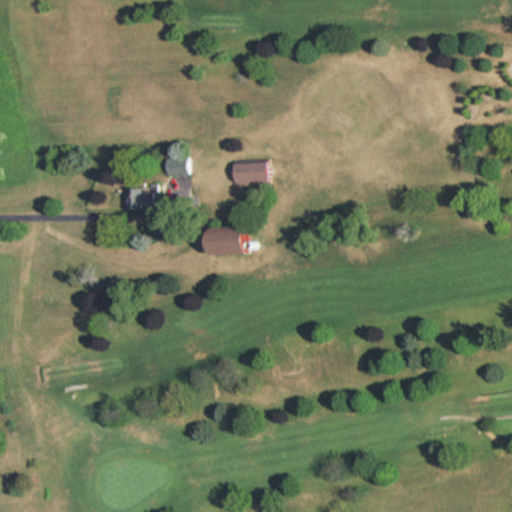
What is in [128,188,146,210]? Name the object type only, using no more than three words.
house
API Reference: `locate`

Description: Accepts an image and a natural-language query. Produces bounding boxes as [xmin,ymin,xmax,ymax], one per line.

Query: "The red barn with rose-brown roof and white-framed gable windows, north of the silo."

[230,160,270,184]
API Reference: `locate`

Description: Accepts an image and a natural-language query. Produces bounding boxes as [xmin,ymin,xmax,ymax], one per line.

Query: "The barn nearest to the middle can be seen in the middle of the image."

[200,229,248,254]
